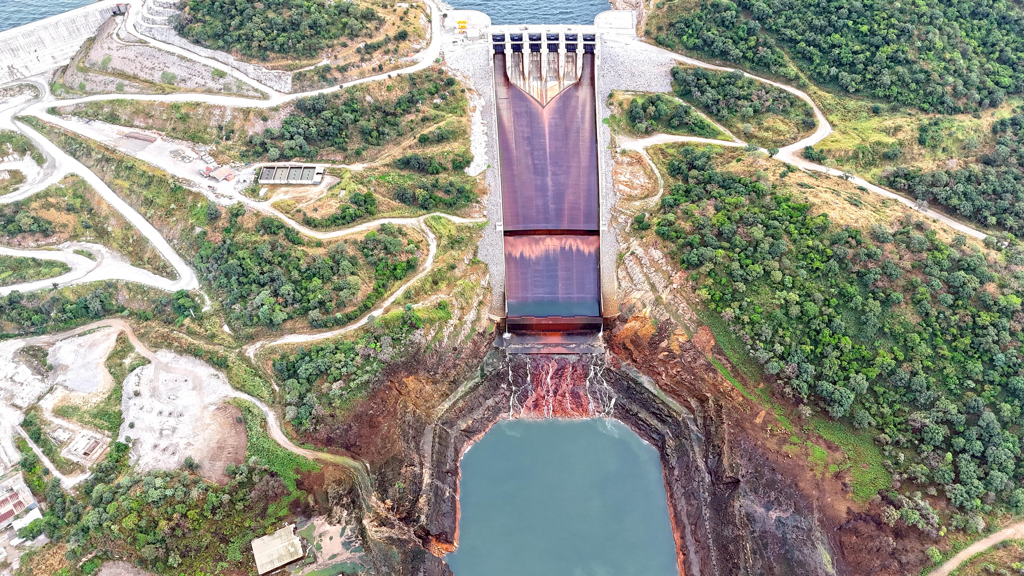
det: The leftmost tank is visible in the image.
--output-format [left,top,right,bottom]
[258,166,319,188]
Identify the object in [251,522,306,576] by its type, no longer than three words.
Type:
shed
